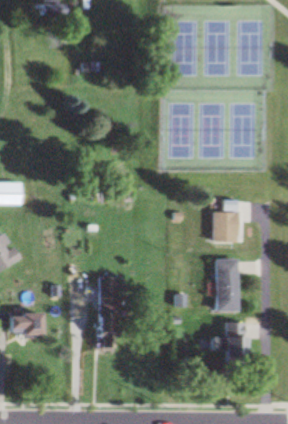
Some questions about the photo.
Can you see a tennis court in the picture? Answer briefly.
Yes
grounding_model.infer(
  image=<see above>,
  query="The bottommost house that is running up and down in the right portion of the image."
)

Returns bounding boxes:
[226,322,242,362]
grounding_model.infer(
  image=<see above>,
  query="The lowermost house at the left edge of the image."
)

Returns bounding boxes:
[10,311,48,335]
